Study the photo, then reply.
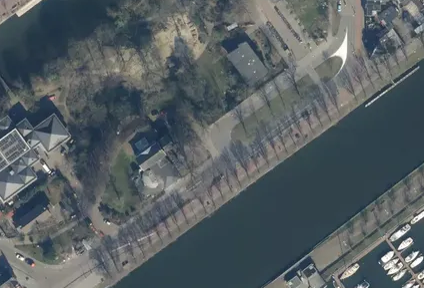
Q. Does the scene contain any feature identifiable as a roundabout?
No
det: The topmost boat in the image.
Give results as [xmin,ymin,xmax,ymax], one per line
[409,210,424,226]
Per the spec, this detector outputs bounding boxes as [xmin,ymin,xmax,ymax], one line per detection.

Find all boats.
[388,261,404,275]
[397,236,415,251]
[382,258,399,272]
[404,251,419,263]
[379,251,395,263]
[357,281,370,288]
[340,262,361,280]
[402,280,416,288]
[331,277,340,288]
[409,256,424,269]
[391,269,406,282]
[389,222,412,241]
[409,210,424,226]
